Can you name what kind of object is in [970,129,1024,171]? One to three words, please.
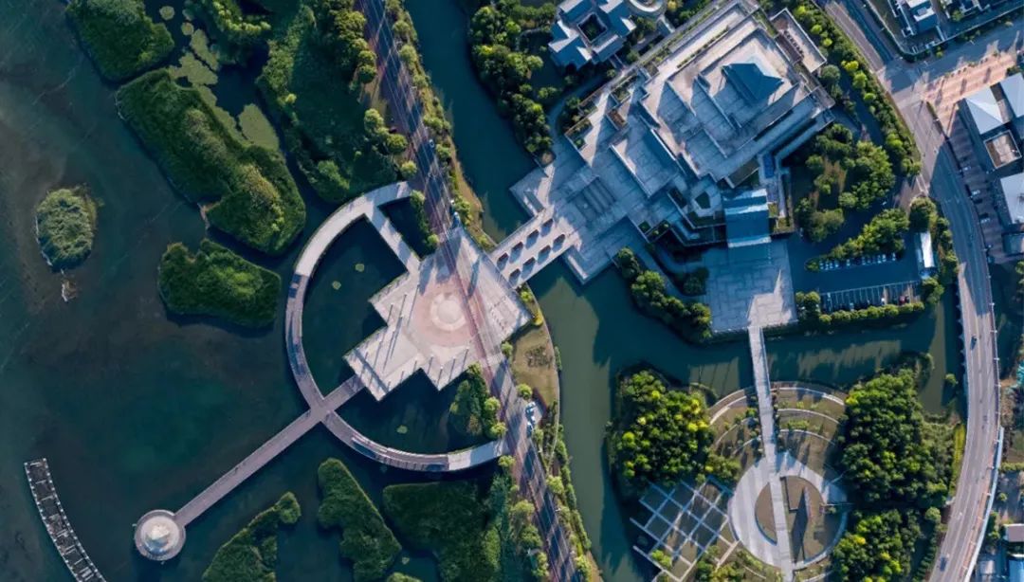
building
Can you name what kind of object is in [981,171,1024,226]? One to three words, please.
building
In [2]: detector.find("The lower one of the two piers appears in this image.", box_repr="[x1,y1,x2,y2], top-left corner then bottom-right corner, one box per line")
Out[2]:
[24,459,105,582]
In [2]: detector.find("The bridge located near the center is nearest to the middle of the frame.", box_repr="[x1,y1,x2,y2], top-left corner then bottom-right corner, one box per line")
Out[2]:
[490,215,572,289]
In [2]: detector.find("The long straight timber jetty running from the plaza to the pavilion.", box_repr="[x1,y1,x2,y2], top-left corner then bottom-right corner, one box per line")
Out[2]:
[172,375,366,527]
